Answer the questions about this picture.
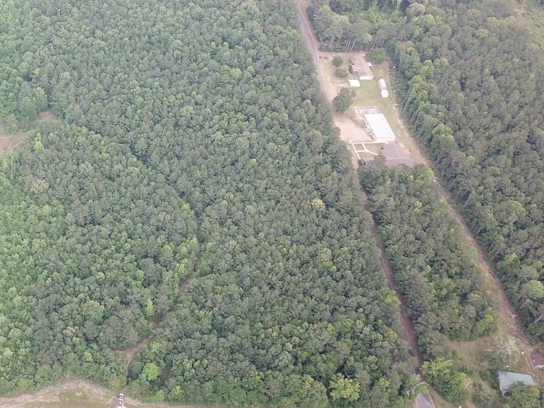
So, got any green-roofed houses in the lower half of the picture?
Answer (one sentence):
No, no green-roofed house can be made out in the lower half of the picture.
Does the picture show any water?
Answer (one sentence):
No, there is no water in the image.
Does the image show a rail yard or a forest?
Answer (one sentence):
The picture captures a forest.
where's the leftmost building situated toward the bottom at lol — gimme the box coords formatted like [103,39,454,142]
[494,373,536,392]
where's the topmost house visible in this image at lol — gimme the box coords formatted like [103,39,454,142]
[348,55,374,81]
